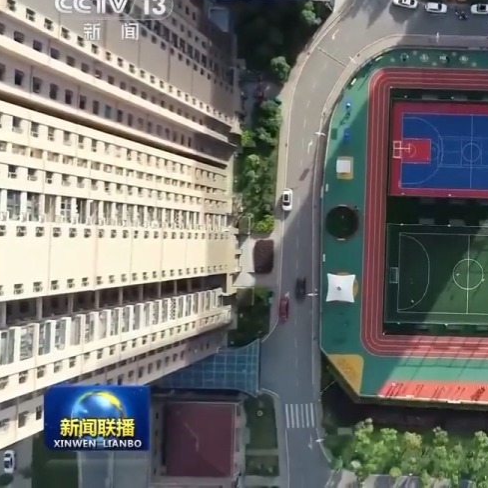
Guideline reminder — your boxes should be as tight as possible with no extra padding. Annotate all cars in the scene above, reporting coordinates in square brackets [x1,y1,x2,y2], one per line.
[425,3,448,14]
[470,4,488,15]
[295,276,307,300]
[282,188,293,212]
[392,0,417,9]
[278,298,289,322]
[2,449,16,472]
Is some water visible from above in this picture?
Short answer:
No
